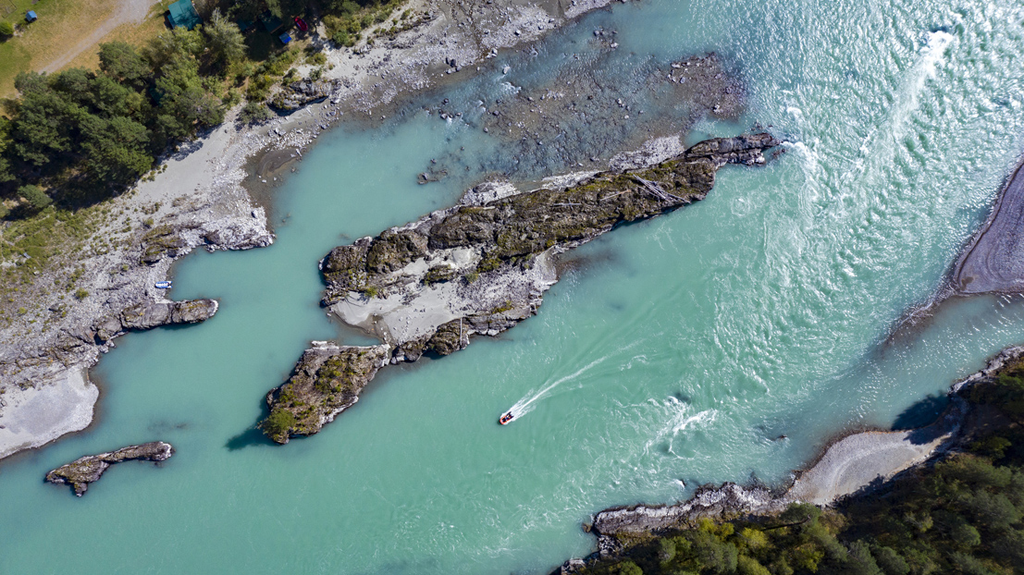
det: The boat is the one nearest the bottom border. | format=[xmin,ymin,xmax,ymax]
[500,410,516,425]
